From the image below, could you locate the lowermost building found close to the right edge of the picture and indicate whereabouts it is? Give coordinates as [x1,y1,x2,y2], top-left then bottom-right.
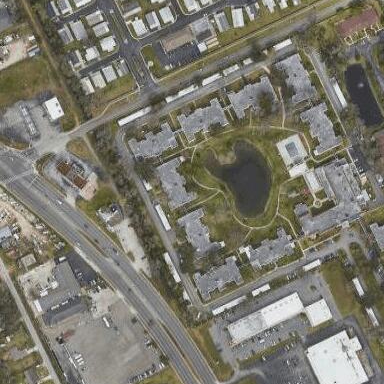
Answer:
[306,330,369,384]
